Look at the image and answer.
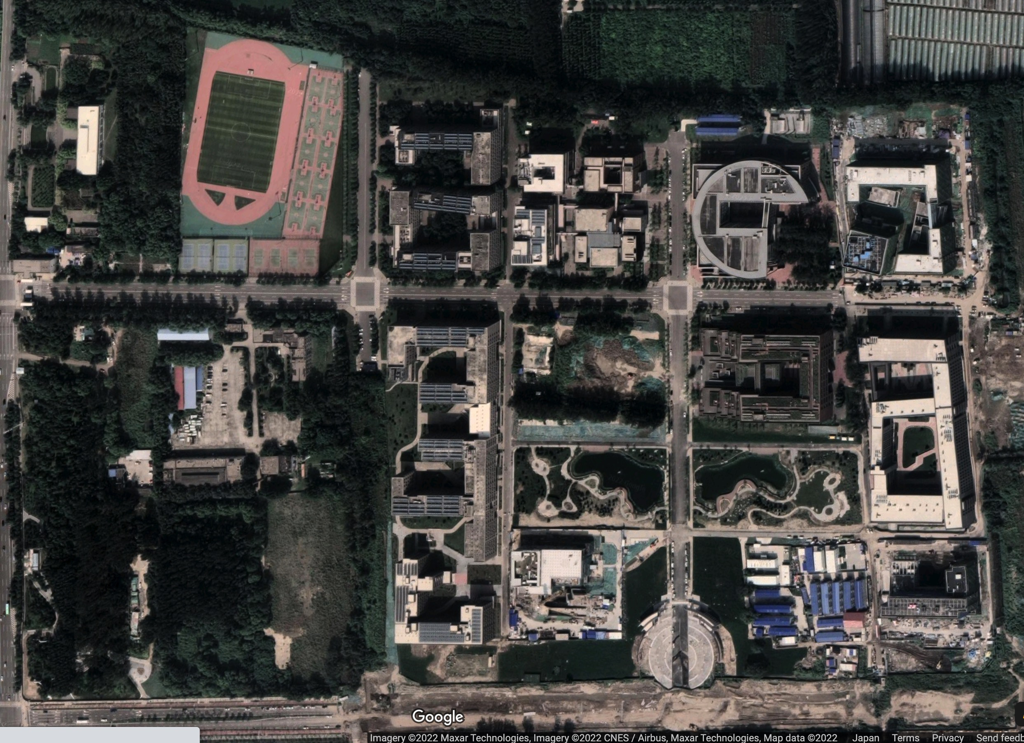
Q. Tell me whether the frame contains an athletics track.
Yes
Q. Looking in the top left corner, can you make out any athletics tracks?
Yes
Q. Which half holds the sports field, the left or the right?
left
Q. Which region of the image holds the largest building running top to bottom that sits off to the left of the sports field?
top left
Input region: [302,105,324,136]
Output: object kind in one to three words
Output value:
basketball court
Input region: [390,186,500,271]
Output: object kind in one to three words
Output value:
building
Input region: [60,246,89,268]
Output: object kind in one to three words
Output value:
house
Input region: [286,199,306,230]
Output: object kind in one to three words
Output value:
basketball court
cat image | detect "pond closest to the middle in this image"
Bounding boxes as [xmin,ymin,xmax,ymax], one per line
[572,452,664,510]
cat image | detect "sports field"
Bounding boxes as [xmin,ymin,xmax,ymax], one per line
[180,33,344,238]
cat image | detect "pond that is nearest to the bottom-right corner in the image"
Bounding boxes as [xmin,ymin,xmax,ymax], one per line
[695,455,789,506]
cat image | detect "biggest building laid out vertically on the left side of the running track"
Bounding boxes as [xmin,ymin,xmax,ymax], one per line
[76,104,106,173]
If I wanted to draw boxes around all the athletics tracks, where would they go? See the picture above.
[181,39,310,226]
